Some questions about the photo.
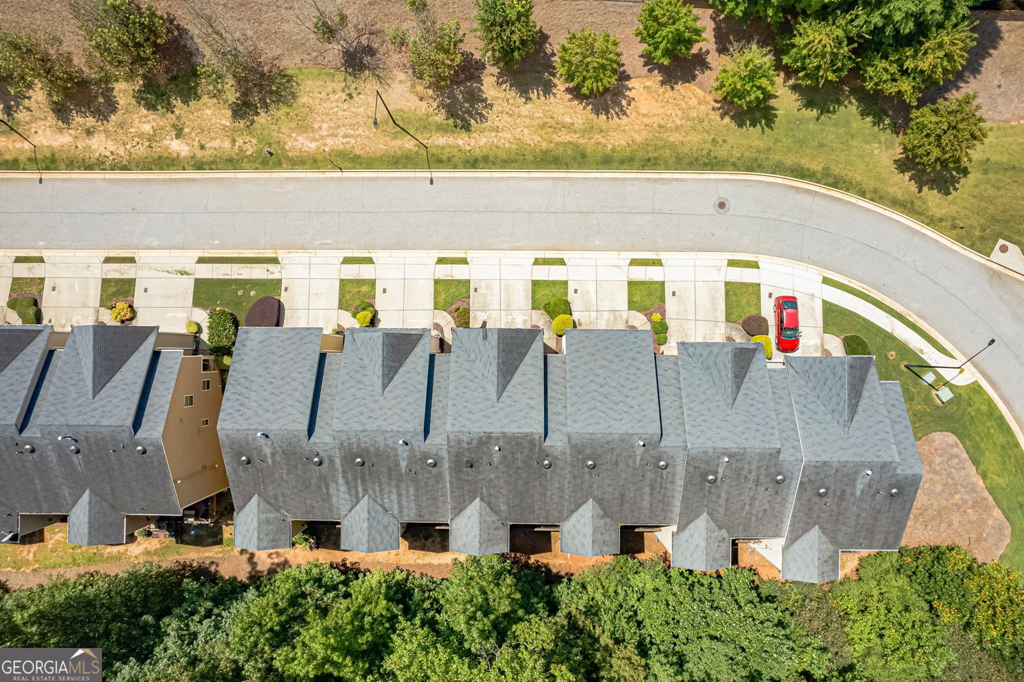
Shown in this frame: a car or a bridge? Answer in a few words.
car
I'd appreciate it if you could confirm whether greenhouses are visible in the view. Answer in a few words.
No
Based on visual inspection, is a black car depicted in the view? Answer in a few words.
No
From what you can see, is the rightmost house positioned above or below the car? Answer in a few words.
below it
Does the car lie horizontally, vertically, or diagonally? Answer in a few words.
vertically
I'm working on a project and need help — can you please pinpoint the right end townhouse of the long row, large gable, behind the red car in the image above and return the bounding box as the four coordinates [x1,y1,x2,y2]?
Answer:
[747,355,924,583]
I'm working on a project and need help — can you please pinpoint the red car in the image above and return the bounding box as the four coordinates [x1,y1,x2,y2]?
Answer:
[772,296,801,353]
